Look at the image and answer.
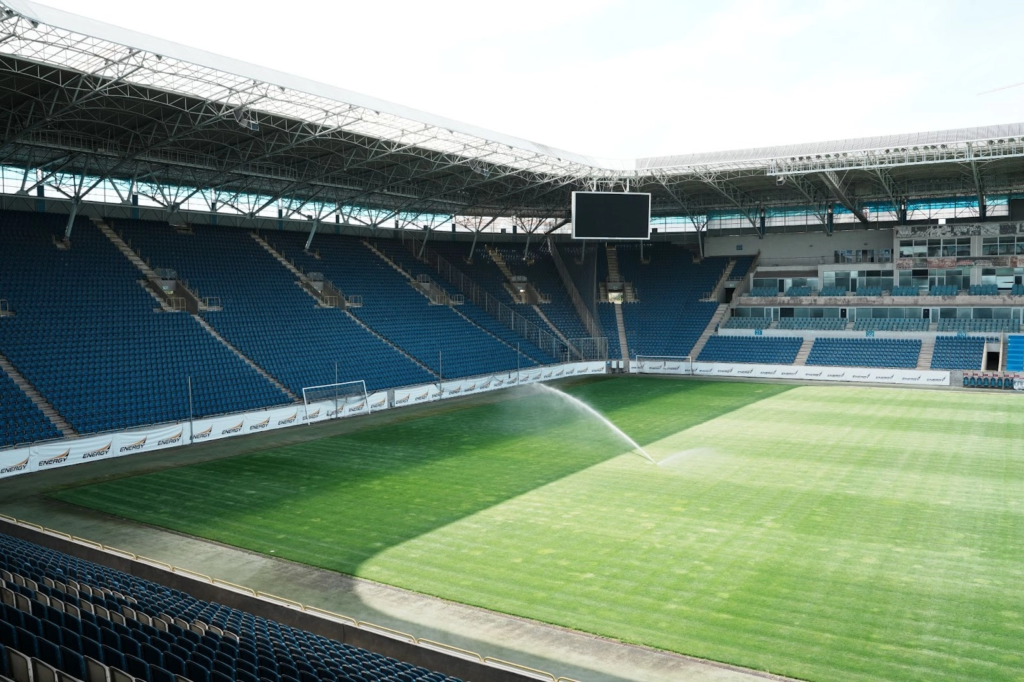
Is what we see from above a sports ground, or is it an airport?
sports ground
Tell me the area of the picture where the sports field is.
bottom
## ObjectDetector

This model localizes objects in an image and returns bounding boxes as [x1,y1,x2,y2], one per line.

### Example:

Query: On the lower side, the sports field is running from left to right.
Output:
[42,376,1024,682]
